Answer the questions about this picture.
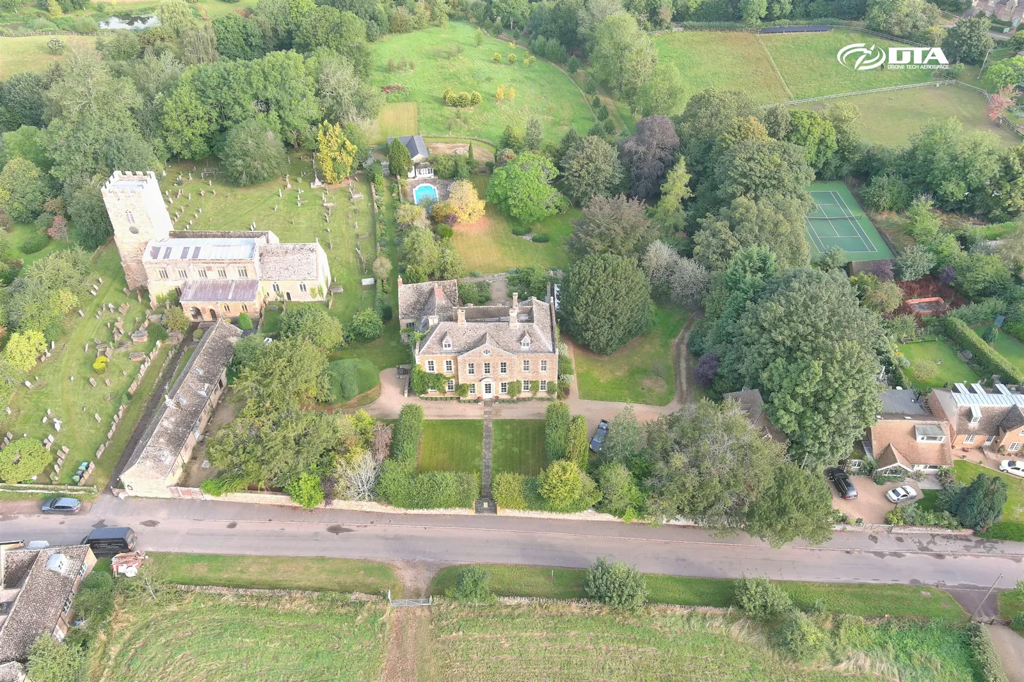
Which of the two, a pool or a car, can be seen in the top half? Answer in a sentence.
There is a pool in the top half.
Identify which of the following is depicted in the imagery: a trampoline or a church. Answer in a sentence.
Of the two, only a church appears.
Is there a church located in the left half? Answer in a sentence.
Yes, in the left half there is a church.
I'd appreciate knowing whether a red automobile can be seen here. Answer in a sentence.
No, I can't see a single red automobile in this photo.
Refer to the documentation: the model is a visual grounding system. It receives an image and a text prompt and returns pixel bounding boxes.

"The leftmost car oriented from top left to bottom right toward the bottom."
[828,468,861,499]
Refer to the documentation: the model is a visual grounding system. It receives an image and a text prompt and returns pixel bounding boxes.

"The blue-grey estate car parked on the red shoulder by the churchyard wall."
[39,497,81,515]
